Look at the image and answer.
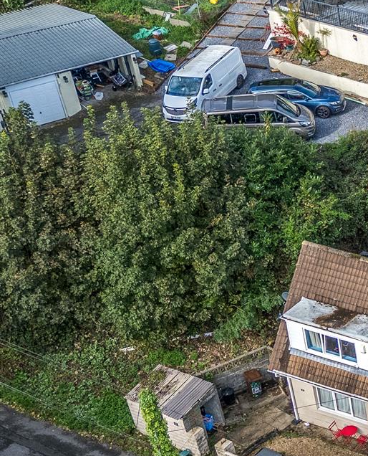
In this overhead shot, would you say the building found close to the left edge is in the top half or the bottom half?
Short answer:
top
